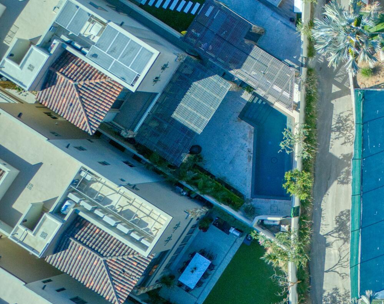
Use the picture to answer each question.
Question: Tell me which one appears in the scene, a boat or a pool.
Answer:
pool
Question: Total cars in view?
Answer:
0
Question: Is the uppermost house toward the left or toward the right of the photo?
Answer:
left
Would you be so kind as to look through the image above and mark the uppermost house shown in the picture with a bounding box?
[0,0,217,144]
